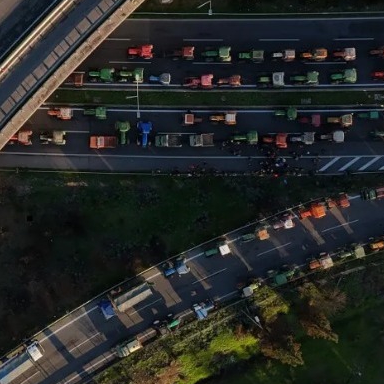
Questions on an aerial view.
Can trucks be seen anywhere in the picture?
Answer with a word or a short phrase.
Yes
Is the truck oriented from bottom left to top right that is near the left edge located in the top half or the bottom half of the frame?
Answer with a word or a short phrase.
bottom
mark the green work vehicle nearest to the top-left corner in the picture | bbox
[84,67,113,83]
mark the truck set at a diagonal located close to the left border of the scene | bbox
[0,344,52,384]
